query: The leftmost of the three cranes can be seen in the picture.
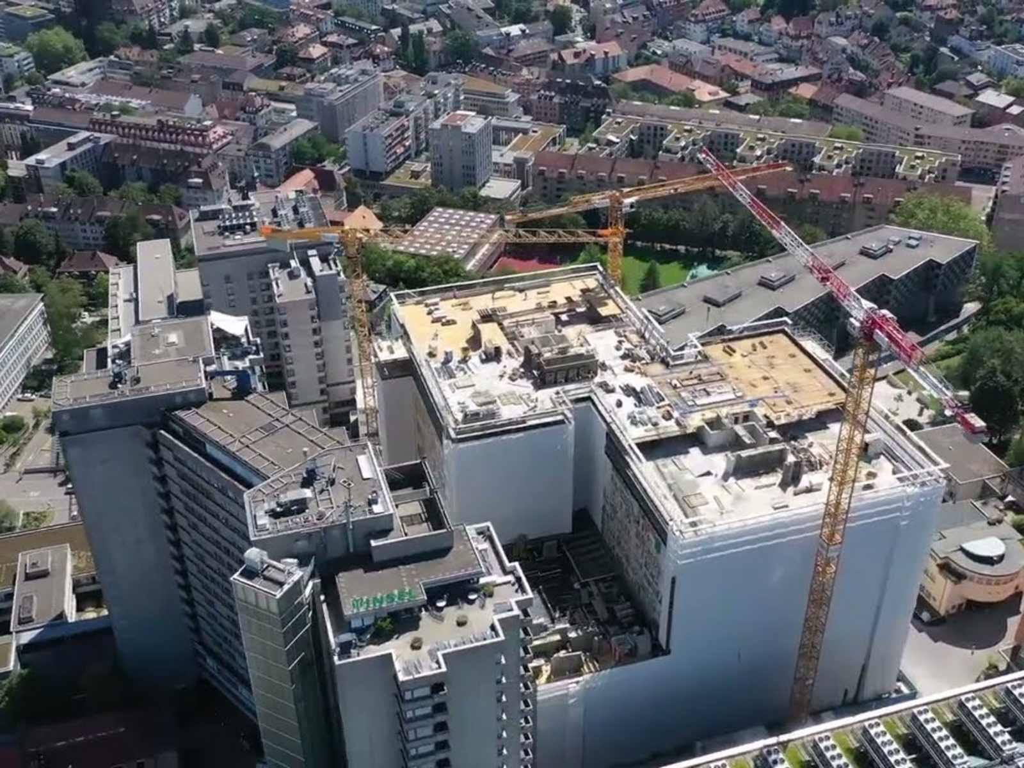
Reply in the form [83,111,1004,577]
[256,230,631,477]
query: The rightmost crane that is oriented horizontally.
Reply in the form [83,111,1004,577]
[505,160,793,301]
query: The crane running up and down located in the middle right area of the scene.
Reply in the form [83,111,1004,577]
[693,147,984,736]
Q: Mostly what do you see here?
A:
buildings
